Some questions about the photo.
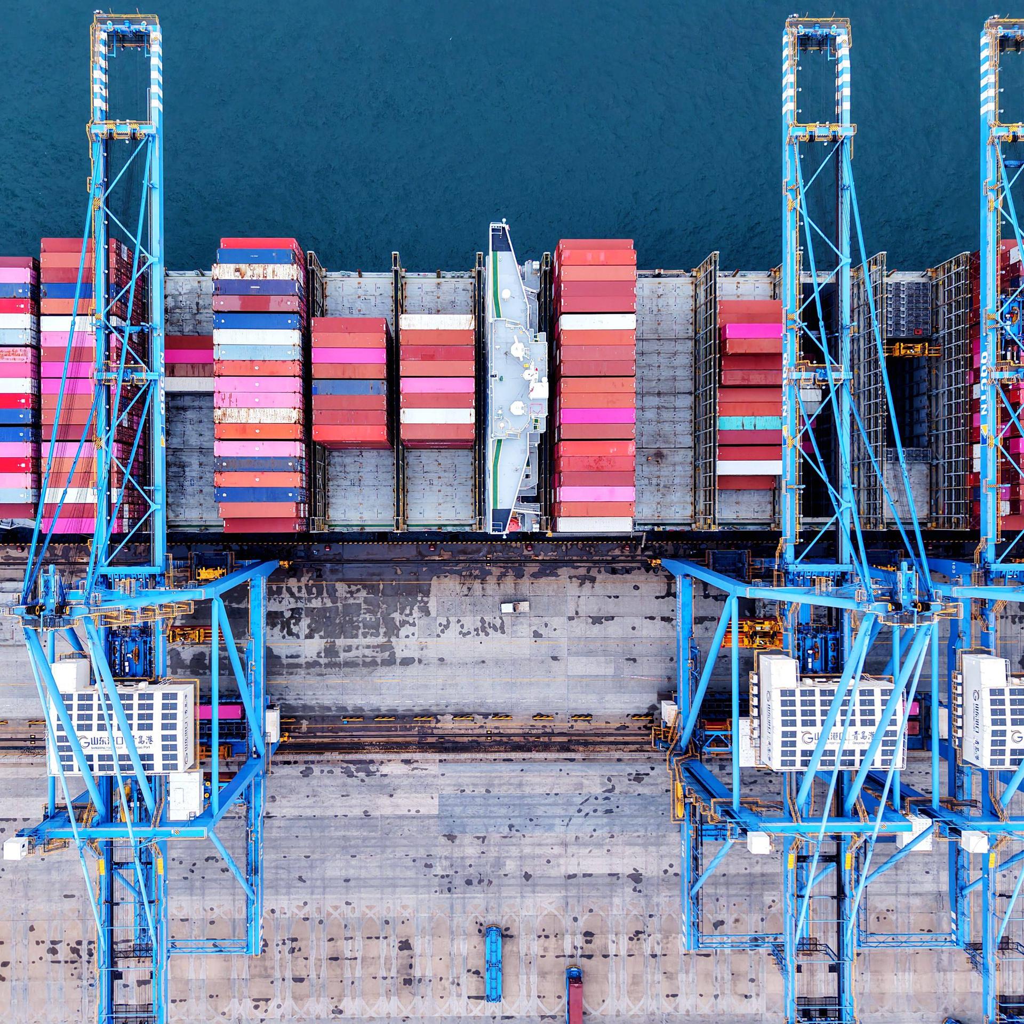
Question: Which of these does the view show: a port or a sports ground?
port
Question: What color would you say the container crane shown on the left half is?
blue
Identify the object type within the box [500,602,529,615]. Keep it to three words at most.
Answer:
vehicle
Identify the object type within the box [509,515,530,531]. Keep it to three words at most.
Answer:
boat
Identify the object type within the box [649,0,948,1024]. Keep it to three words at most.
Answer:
container crane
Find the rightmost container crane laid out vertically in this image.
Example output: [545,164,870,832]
[799,0,1024,1024]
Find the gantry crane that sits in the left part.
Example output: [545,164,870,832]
[0,0,288,1024]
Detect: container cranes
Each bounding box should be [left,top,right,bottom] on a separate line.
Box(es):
[0,0,288,1024]
[649,0,948,1024]
[799,0,1024,1024]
